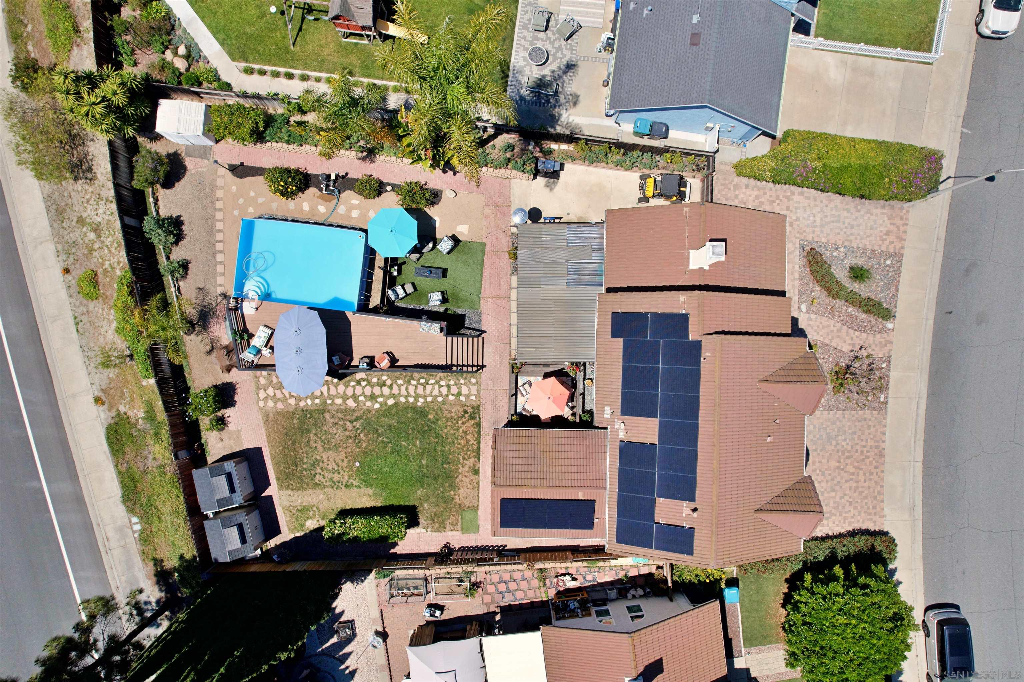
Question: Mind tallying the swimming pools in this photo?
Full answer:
I count just 1 swimming pool.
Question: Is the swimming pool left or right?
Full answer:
You can find the swimming pool on the left side of the picture.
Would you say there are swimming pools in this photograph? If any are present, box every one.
[234,215,375,312]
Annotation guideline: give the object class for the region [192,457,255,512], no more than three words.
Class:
shed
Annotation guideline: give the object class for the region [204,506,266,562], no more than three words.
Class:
shed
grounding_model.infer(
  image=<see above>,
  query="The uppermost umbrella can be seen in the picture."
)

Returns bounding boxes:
[368,208,418,258]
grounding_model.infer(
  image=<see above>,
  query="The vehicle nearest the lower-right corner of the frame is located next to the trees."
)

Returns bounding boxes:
[926,610,982,682]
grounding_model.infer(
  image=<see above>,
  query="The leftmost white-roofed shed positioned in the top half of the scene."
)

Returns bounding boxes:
[156,100,217,144]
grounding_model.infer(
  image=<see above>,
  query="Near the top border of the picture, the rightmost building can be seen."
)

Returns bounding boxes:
[607,0,821,141]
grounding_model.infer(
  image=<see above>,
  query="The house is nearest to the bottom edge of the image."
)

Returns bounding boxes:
[540,586,727,682]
